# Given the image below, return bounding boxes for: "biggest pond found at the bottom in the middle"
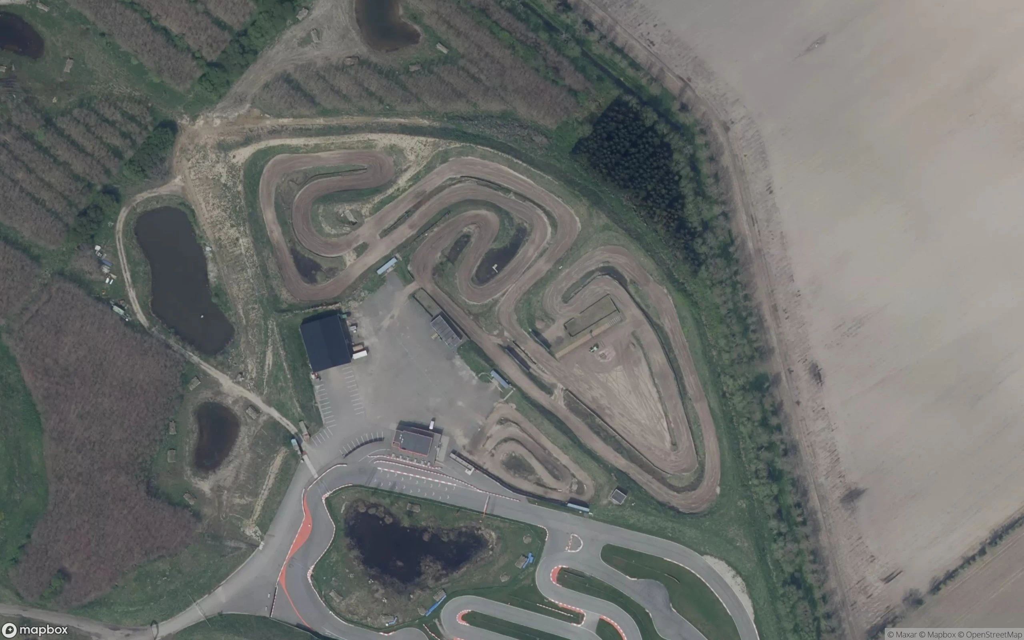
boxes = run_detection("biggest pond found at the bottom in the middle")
[346,514,486,583]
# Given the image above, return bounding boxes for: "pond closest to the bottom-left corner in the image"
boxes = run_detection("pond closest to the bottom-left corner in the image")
[195,402,241,471]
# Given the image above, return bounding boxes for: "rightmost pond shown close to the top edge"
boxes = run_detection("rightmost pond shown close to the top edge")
[355,0,420,52]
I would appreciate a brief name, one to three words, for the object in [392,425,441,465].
building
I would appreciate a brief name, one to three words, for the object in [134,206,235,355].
pond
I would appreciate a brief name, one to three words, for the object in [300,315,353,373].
barn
